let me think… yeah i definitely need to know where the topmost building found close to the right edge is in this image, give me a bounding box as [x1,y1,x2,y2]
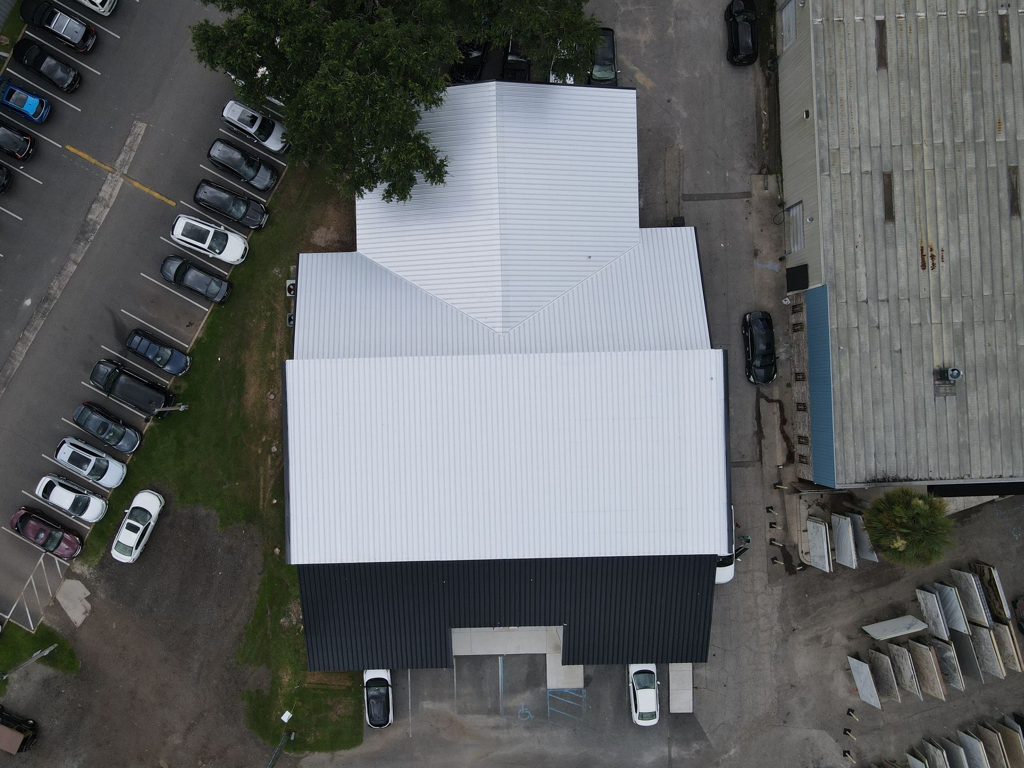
[772,0,1024,488]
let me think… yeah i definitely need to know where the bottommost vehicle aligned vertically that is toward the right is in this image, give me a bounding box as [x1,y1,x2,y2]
[629,664,661,731]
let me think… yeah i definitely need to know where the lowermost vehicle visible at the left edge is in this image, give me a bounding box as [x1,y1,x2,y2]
[0,703,45,757]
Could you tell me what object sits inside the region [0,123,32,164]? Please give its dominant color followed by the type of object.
black car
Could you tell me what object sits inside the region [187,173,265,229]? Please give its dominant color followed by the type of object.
black car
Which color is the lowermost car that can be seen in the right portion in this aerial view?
white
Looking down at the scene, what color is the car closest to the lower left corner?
black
